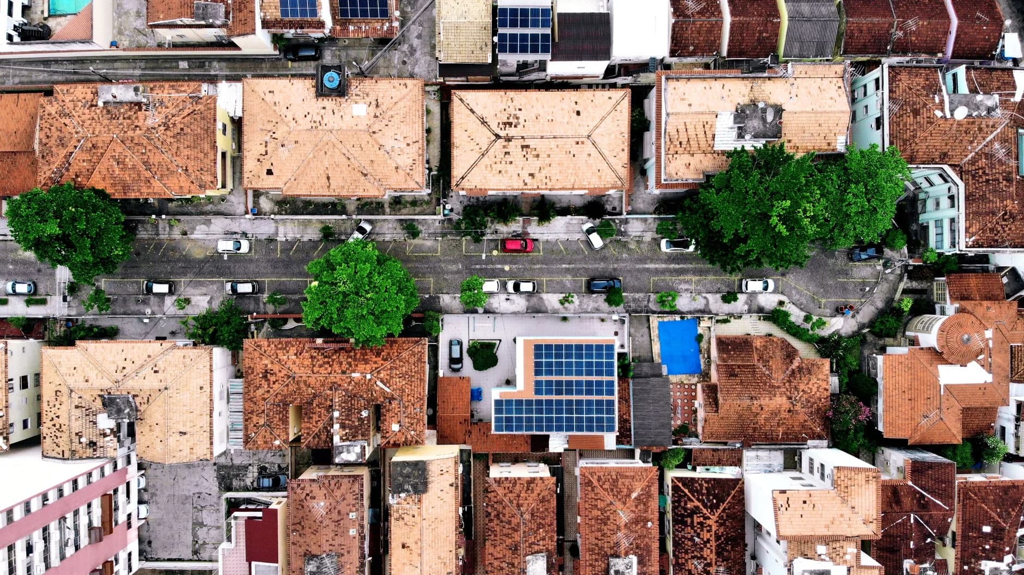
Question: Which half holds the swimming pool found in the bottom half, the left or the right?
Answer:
right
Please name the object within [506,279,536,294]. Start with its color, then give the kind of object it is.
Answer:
white car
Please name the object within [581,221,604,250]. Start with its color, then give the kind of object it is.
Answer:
white car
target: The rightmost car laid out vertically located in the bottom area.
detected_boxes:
[448,338,464,371]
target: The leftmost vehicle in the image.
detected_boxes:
[7,280,38,295]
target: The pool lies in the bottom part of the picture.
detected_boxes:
[656,317,704,377]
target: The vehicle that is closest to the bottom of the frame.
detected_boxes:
[136,503,154,519]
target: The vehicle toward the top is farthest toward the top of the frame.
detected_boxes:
[286,45,320,62]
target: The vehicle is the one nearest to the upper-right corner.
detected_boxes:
[848,247,879,262]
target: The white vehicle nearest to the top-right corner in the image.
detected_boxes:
[740,278,773,294]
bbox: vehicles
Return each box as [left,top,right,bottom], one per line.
[661,237,694,253]
[286,45,320,62]
[448,338,464,371]
[581,221,604,250]
[136,503,154,519]
[7,280,38,295]
[136,474,151,489]
[145,280,176,295]
[347,218,373,244]
[848,247,879,262]
[588,277,621,292]
[477,279,503,294]
[219,240,250,254]
[506,279,536,294]
[228,280,258,295]
[257,474,281,489]
[740,278,773,294]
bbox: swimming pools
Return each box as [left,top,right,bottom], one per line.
[45,0,90,18]
[656,317,704,377]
